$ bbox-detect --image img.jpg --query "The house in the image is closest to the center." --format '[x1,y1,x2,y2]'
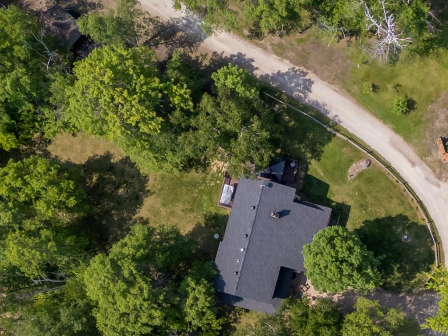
[204,178,336,314]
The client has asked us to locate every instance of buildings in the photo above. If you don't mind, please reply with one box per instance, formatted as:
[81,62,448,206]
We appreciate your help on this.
[204,178,336,314]
[42,3,88,53]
